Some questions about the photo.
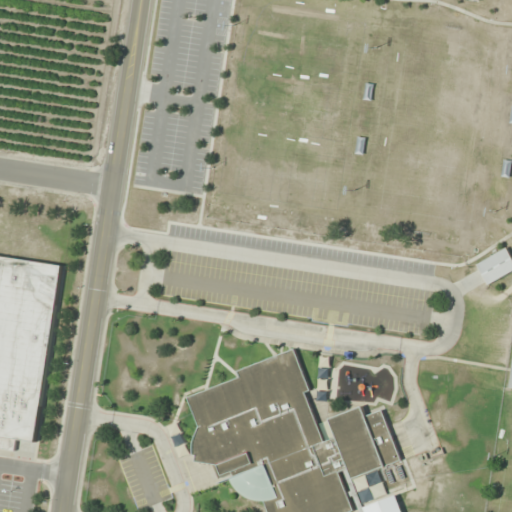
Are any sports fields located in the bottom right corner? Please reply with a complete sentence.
No, there's no sports field to be seen in the bottom right corner.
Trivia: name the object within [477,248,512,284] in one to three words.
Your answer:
building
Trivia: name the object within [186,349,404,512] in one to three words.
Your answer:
building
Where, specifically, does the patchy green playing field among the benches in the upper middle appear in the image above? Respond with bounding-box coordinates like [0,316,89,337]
[248,18,352,126]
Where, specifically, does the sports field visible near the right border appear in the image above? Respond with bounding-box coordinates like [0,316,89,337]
[382,34,488,202]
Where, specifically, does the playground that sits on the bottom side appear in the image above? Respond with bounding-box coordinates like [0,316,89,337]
[332,362,398,406]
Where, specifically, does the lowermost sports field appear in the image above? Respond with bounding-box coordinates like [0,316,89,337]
[236,150,350,214]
